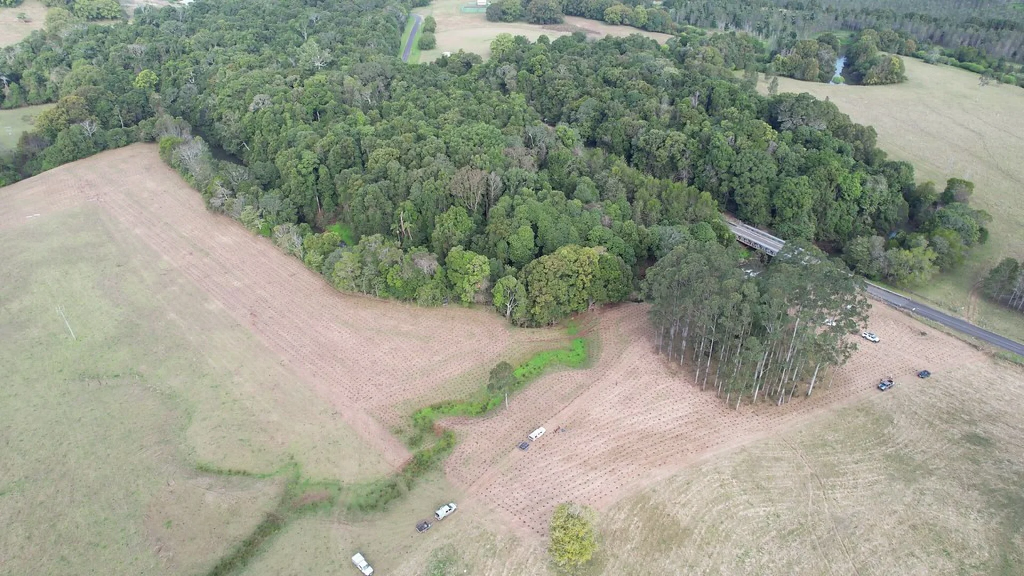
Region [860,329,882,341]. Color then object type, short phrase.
white vehicle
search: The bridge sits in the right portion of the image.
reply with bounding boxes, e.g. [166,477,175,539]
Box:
[728,217,864,285]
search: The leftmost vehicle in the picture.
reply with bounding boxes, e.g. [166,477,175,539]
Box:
[349,547,373,575]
